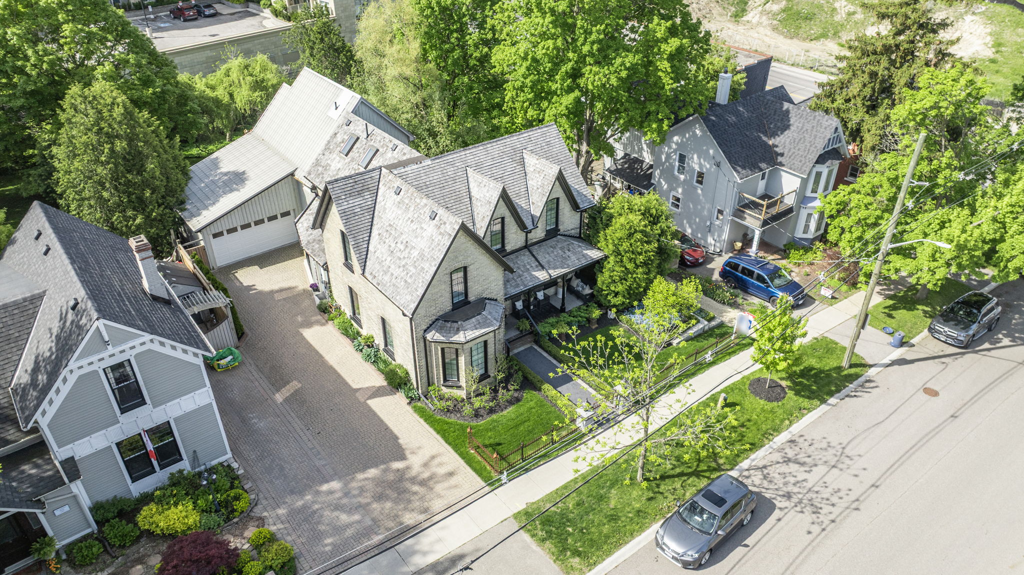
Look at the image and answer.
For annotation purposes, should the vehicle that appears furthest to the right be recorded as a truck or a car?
car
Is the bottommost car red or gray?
gray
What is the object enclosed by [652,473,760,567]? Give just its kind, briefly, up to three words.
car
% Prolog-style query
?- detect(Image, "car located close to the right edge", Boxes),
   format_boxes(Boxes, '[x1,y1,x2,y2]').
[930,288,1006,348]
